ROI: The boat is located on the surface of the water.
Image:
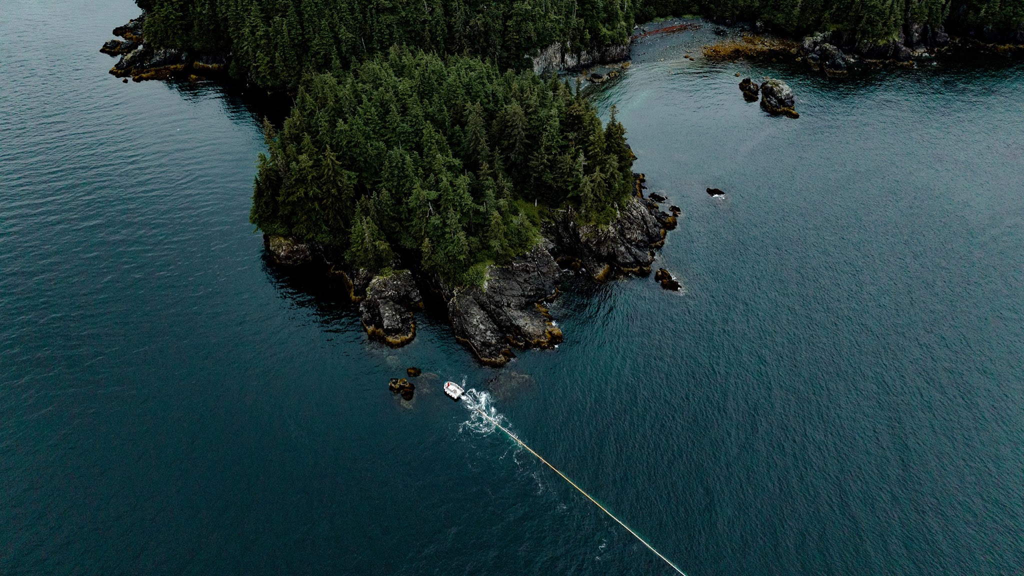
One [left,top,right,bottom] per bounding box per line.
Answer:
[443,382,465,400]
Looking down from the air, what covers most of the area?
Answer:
water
